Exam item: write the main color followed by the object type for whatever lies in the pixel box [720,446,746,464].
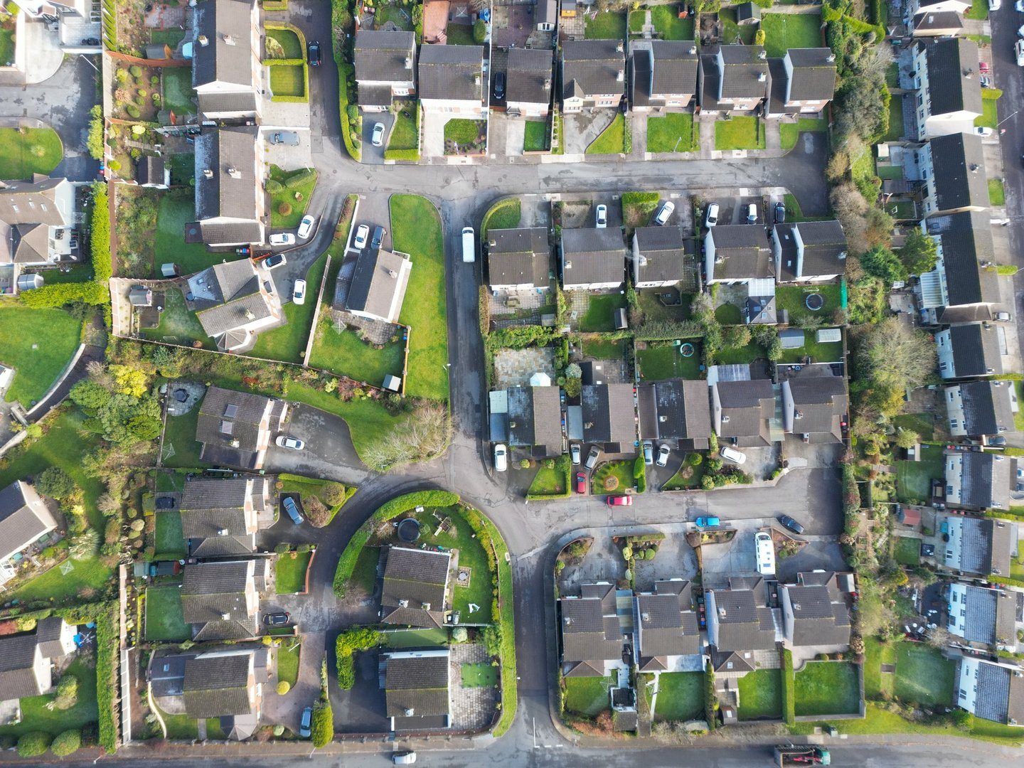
white car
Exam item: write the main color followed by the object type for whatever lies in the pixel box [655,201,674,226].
white car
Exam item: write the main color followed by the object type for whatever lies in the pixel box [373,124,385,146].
white vehicle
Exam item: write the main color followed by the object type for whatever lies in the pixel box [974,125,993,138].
white vehicle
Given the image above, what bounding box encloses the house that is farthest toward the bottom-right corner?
[960,654,1024,729]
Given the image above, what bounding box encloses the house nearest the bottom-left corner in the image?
[0,612,78,701]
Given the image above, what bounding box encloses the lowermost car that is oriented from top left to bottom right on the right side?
[780,514,804,535]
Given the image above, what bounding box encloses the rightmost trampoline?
[804,292,827,311]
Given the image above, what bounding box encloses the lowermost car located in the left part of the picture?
[393,750,415,764]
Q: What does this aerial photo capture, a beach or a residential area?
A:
residential area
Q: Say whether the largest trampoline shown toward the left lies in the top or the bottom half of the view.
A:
bottom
